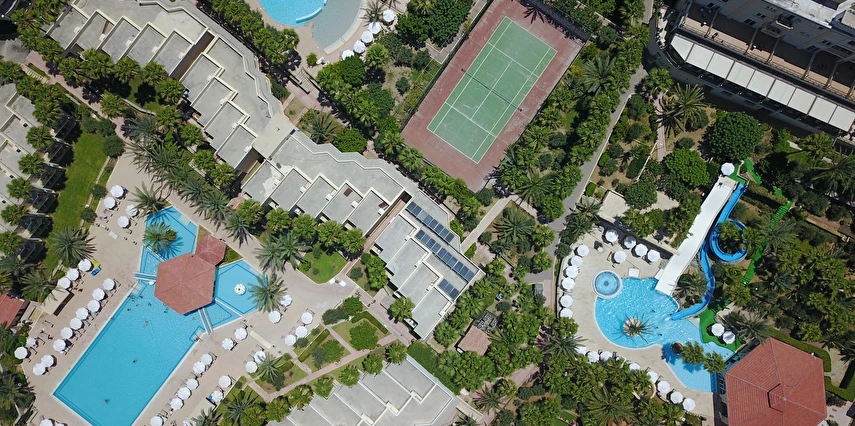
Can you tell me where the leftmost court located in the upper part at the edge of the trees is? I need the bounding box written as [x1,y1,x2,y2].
[401,0,586,193]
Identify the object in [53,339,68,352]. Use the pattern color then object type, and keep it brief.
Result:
white umbrella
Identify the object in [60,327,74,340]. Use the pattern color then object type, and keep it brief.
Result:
white umbrella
